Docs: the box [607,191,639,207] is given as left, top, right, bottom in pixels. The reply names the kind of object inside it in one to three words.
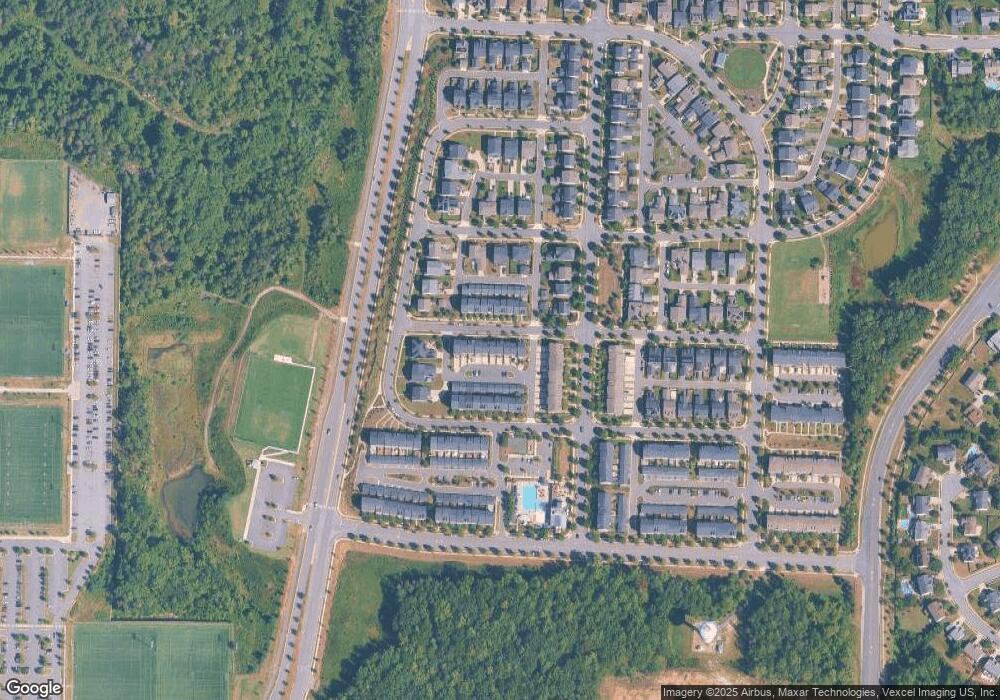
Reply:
house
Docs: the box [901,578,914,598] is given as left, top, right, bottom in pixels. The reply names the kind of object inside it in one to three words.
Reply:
swimming pool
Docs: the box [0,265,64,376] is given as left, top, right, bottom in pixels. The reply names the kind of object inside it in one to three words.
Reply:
sports field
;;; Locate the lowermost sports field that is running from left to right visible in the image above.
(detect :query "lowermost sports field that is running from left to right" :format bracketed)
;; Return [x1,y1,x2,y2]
[74,623,230,700]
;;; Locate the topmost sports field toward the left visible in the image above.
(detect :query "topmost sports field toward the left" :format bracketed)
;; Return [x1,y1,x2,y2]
[0,160,68,242]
